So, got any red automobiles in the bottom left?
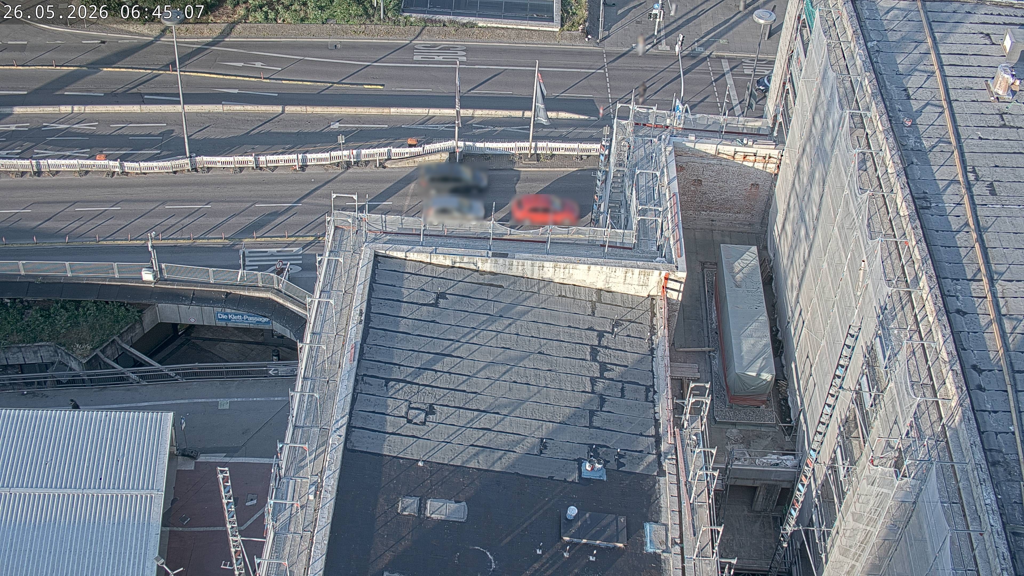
No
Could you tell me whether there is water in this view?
No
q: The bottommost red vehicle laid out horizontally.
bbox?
[509,190,581,228]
